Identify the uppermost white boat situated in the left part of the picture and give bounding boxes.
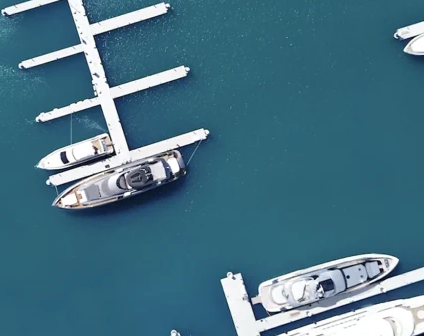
[38,118,114,168]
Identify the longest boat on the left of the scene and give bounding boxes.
[53,138,202,206]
